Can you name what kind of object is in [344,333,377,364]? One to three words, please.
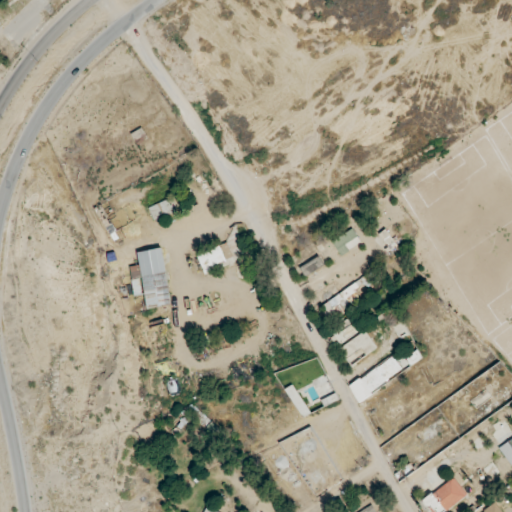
house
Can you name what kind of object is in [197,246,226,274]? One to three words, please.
house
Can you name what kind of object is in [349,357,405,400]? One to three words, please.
building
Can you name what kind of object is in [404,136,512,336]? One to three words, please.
soccer field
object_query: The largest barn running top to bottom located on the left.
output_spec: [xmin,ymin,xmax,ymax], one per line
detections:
[137,247,170,310]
